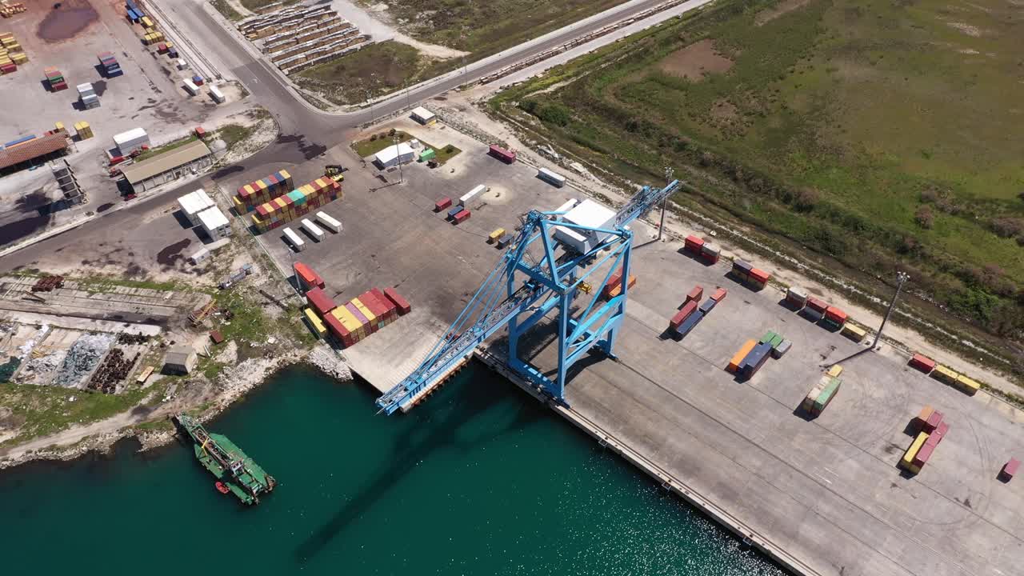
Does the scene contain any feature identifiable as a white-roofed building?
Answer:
Yes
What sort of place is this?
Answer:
port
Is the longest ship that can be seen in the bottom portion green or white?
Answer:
green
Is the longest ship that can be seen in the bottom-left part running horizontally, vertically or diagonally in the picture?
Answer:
diagonally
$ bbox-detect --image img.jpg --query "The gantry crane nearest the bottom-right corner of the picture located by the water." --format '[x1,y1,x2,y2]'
[360,180,685,418]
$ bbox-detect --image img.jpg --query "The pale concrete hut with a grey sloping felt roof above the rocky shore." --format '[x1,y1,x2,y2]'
[160,343,190,372]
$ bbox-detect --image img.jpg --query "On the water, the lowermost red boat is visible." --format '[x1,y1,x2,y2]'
[214,481,230,494]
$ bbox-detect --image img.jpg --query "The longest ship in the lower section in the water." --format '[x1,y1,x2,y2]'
[172,409,276,506]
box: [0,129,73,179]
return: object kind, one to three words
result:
shed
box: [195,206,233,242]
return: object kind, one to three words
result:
building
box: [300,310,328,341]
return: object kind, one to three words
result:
shipping container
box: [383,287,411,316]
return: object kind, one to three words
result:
shipping container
